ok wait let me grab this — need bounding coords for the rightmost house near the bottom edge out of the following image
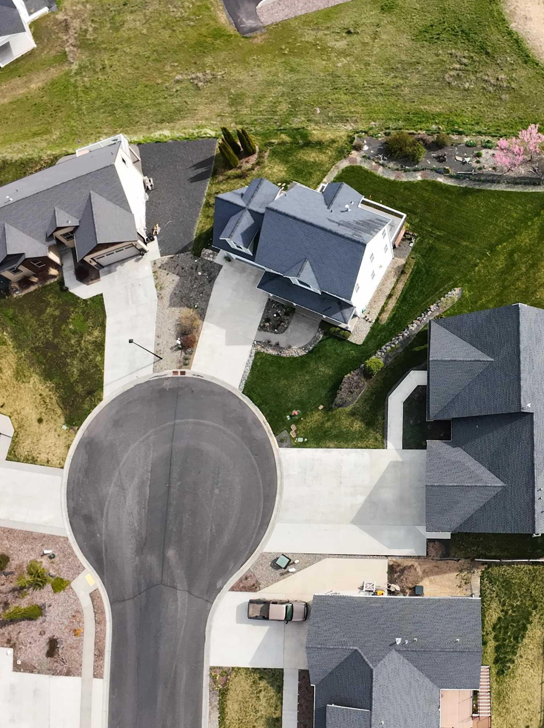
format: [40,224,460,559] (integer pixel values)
[305,593,491,728]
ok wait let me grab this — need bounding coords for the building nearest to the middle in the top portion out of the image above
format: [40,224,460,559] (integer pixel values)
[212,173,406,331]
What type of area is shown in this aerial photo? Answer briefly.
residential area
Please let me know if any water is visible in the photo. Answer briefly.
No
